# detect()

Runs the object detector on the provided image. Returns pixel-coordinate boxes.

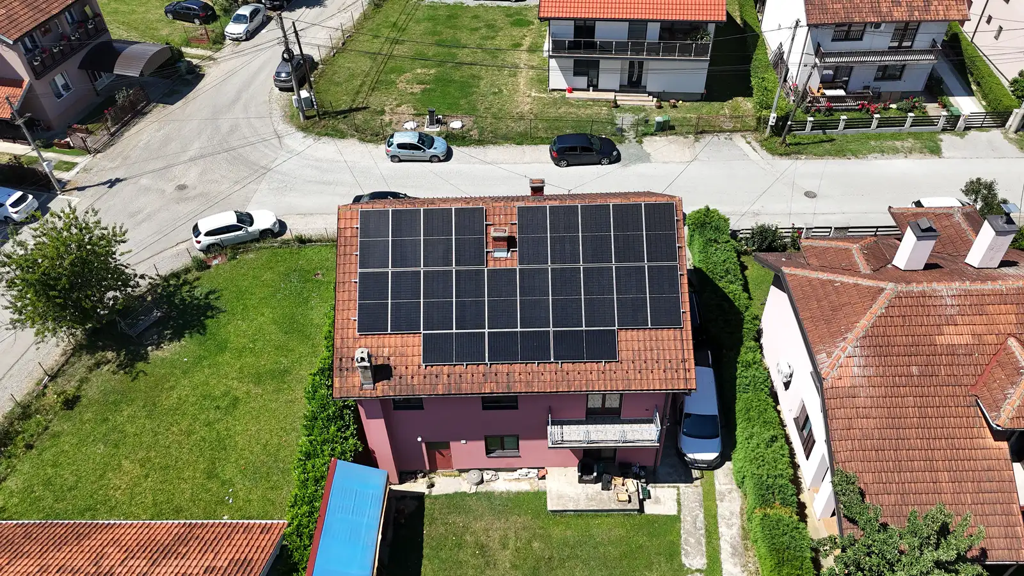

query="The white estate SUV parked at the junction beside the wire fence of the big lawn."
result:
[192,202,278,249]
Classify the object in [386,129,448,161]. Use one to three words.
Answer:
car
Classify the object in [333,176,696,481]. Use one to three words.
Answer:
house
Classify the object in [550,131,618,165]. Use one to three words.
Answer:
car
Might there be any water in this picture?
No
